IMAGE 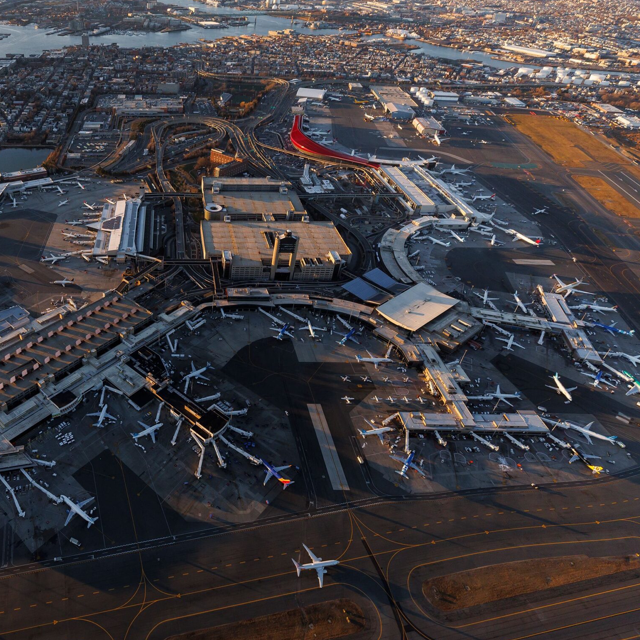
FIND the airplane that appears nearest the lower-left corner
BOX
[62,497,100,529]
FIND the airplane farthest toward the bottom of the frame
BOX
[291,543,338,587]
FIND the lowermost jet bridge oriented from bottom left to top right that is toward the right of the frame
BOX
[380,410,402,427]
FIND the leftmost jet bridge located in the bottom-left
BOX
[0,474,26,520]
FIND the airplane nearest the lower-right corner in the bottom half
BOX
[571,449,605,473]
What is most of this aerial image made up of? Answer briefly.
paved ground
